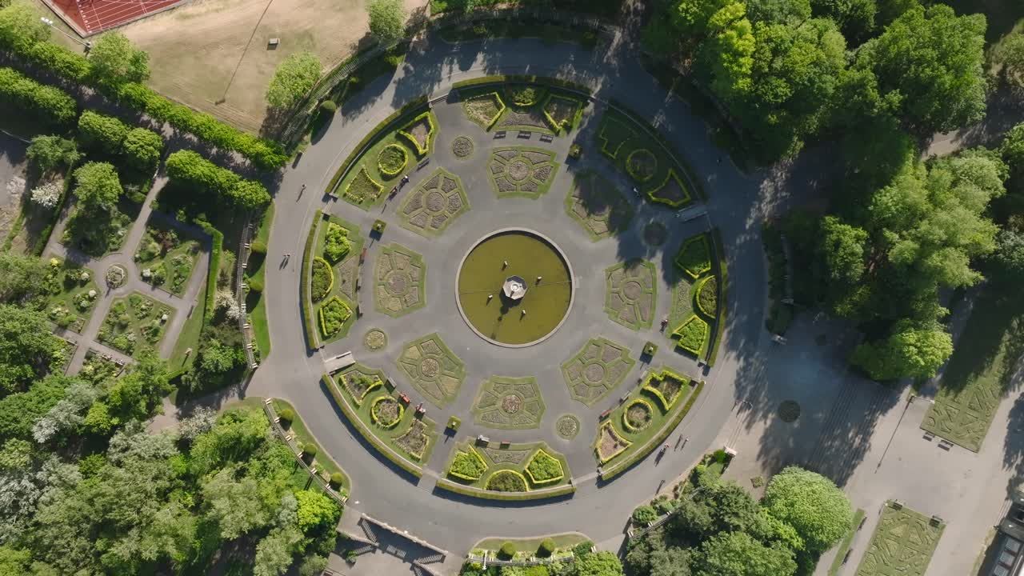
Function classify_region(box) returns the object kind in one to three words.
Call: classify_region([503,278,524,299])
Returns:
fountain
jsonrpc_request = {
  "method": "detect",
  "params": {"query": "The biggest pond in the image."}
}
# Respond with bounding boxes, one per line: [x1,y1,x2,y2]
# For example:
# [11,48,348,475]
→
[456,229,573,346]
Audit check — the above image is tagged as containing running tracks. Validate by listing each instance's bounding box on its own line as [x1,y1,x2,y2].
[45,0,193,40]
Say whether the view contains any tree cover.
Yes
